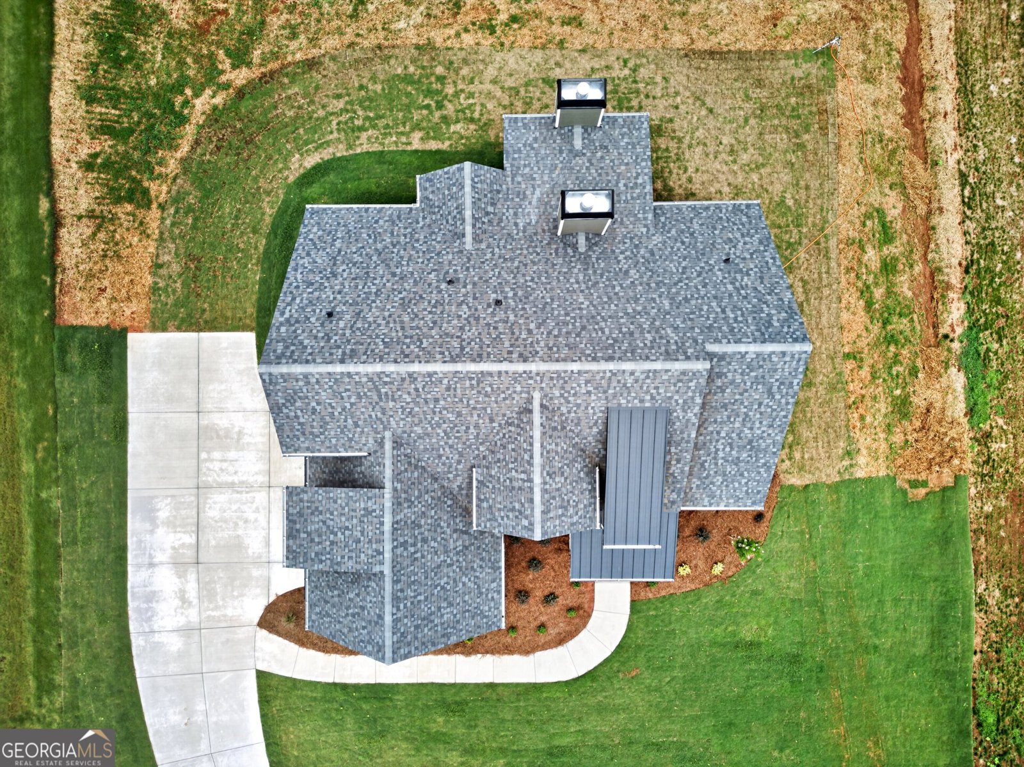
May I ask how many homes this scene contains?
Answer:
1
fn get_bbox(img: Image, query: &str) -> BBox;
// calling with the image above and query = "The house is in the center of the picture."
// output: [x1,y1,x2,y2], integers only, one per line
[257,78,810,665]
